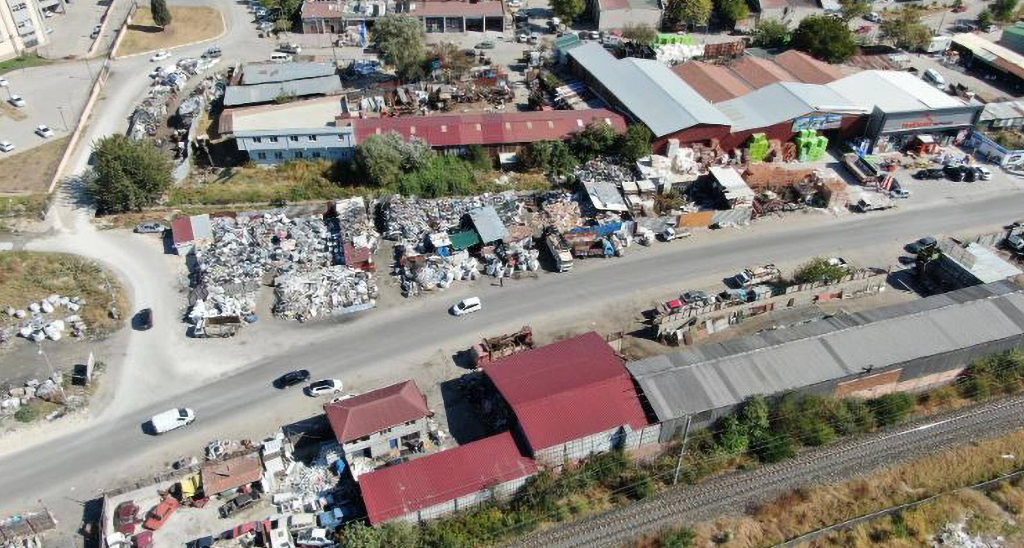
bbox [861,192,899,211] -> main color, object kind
white vehicle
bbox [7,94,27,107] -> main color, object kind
white vehicle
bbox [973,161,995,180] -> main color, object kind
white car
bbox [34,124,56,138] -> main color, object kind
white car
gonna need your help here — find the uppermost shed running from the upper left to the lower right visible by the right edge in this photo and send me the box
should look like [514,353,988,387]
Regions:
[947,32,1024,106]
